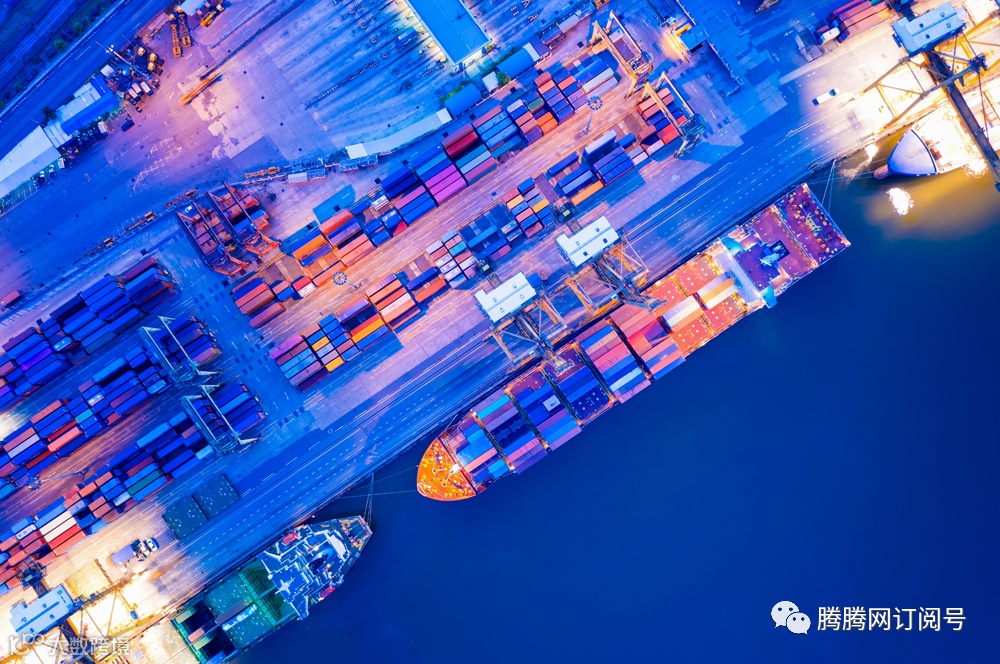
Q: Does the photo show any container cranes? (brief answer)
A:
Yes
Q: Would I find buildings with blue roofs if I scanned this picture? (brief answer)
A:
Yes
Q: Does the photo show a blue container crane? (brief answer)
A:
Yes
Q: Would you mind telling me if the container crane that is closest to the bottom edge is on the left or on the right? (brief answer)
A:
left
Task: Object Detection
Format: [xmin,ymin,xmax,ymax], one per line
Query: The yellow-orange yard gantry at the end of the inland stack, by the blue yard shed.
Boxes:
[585,4,662,100]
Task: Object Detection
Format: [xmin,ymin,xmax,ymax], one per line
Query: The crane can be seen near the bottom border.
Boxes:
[13,554,171,664]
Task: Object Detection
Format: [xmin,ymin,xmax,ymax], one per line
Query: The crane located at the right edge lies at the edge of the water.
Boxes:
[846,0,1000,193]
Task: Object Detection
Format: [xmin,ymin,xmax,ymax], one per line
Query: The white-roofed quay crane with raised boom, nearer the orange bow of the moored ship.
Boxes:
[466,251,571,375]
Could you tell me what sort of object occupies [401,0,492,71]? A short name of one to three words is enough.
building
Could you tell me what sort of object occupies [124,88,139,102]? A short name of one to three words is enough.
vehicle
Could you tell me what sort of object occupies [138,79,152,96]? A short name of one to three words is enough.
vehicle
